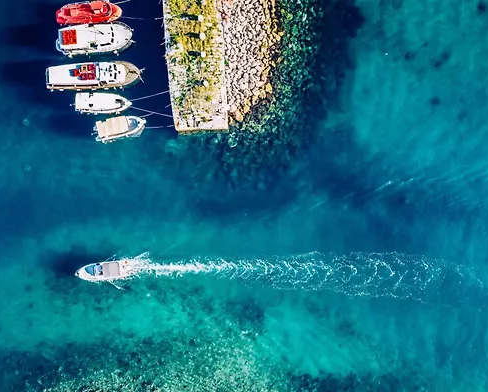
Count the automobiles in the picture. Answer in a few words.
zero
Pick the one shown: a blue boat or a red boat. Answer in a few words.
red boat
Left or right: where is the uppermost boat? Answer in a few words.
left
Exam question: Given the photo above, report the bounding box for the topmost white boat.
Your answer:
[55,19,137,58]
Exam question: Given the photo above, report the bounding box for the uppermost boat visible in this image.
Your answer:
[56,0,124,26]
